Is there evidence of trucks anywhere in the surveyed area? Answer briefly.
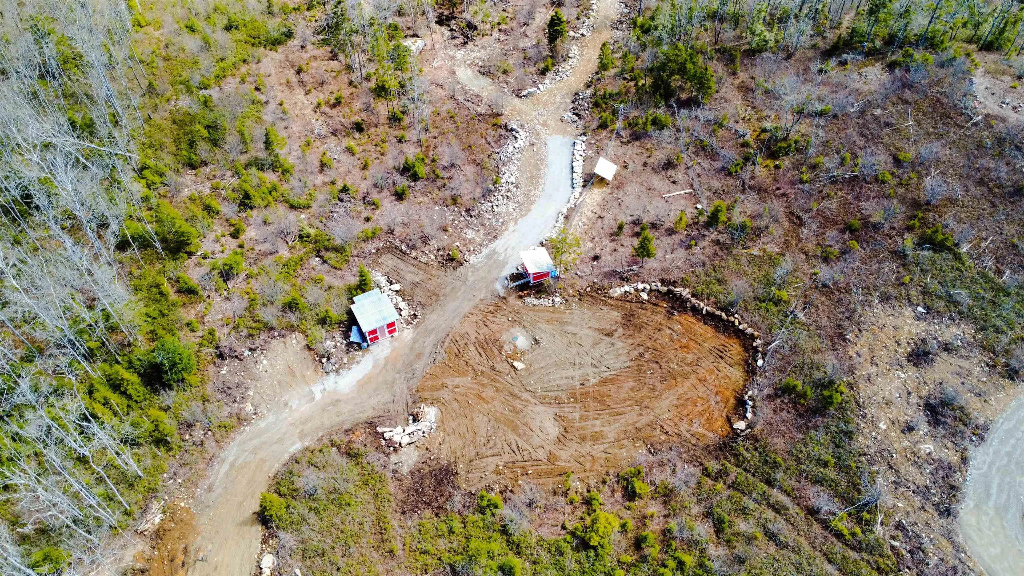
No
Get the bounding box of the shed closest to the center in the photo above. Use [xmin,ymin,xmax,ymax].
[522,245,557,286]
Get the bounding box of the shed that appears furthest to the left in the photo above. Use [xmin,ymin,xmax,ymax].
[354,290,402,344]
